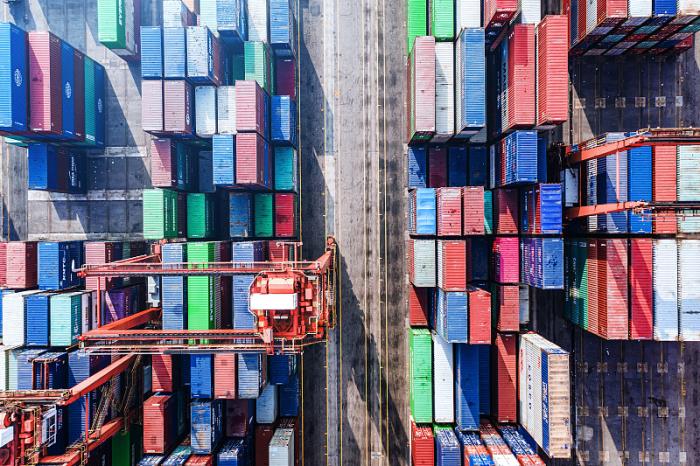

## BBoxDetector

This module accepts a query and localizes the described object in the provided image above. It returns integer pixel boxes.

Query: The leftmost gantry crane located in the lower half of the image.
[0,321,156,466]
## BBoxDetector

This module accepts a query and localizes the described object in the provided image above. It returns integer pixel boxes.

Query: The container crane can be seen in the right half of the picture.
[550,133,700,237]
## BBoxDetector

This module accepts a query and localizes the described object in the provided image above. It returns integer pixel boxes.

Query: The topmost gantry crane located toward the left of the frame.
[75,230,342,364]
